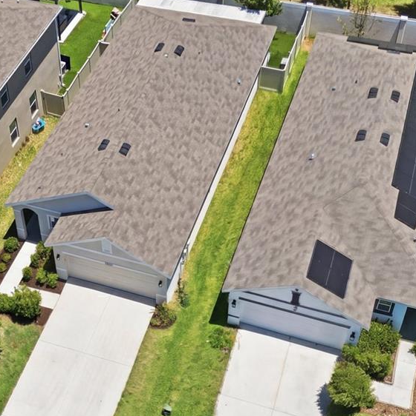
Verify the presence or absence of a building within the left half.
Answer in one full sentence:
Yes, looking within the left half, one can make out a building.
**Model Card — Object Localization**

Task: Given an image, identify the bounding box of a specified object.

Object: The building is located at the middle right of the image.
[221,32,416,355]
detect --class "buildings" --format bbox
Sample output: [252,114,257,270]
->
[6,5,280,308]
[0,0,67,173]
[221,32,416,355]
